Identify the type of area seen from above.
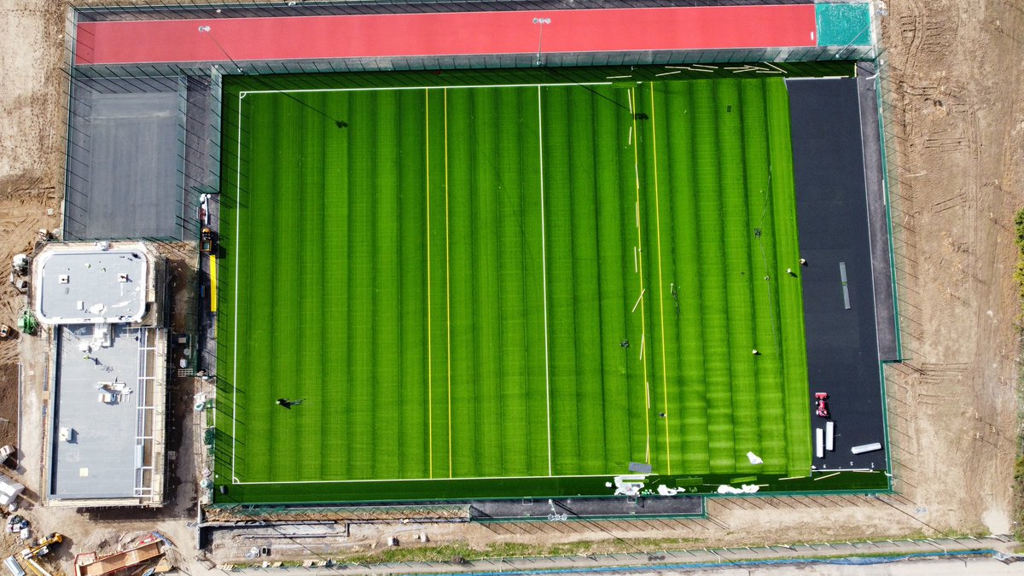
sports ground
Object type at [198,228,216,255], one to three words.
vehicle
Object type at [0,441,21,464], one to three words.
truck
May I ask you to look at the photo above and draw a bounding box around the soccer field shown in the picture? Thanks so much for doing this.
[211,58,892,507]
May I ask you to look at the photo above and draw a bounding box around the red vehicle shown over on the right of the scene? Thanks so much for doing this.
[815,390,830,419]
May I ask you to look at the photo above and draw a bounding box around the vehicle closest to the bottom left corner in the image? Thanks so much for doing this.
[10,530,62,564]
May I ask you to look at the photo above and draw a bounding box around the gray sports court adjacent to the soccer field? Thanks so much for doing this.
[67,77,185,239]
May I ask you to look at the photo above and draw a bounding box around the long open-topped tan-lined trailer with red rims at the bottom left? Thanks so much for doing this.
[74,536,166,576]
